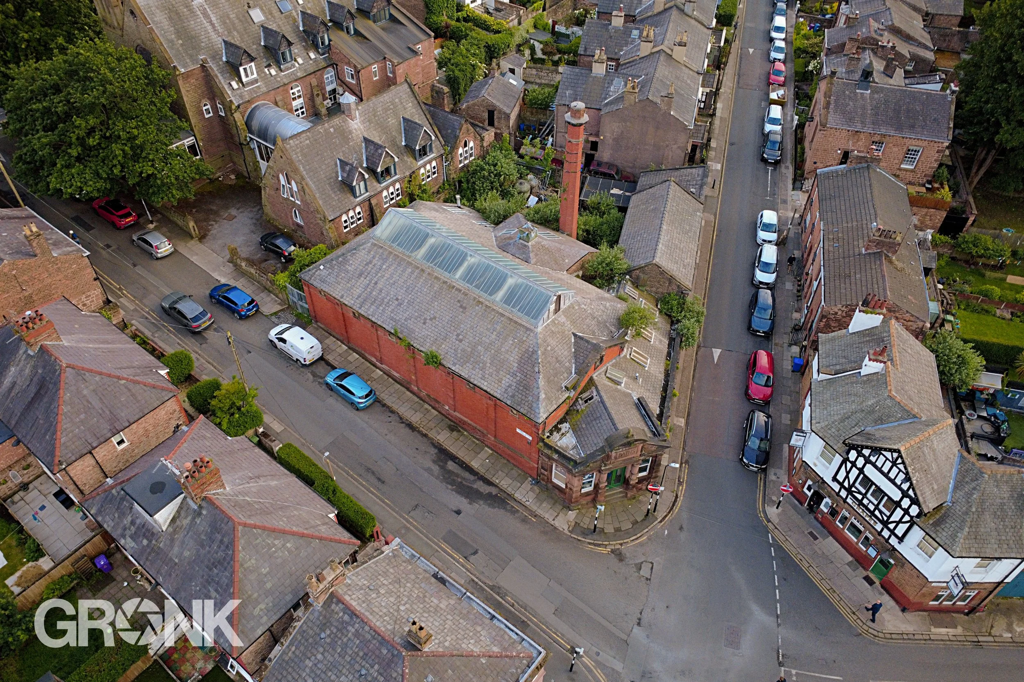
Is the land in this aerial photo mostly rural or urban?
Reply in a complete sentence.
The area shown here is urban.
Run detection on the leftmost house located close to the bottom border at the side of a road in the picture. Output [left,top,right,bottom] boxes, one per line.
[76,414,361,682]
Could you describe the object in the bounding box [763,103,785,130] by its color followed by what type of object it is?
white car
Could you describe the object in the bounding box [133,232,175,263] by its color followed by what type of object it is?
gray car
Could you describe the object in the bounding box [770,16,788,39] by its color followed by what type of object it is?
white car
